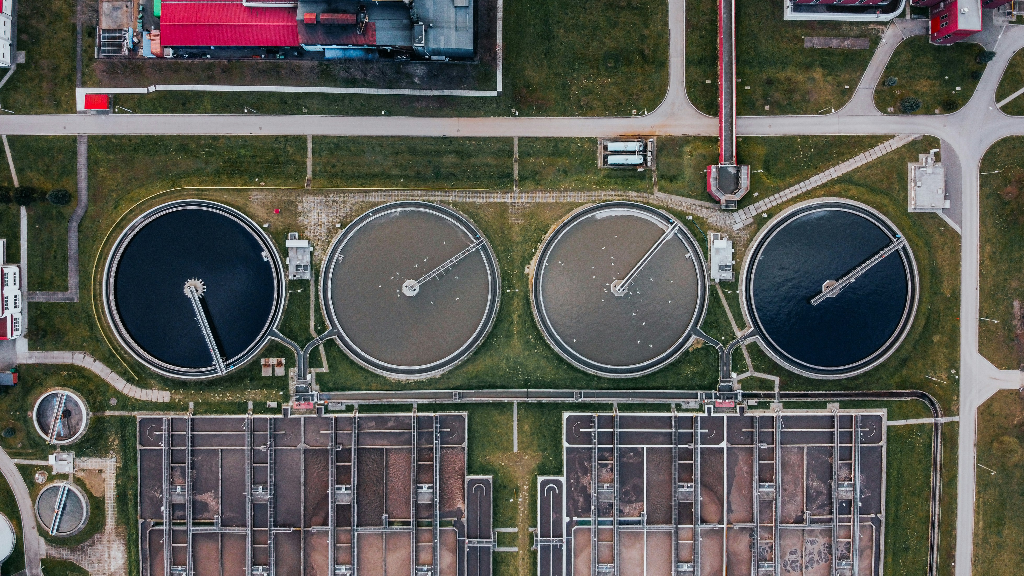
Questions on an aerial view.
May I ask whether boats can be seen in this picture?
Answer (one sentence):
No, no boat is visible in the scene.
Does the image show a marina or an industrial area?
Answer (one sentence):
This looks like an industrial area.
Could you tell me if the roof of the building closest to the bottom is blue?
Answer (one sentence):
No, from above the roof of the building closest to the bottom looks white.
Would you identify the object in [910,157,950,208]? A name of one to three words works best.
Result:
building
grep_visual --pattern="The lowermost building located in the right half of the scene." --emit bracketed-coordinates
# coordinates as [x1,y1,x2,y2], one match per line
[708,233,735,282]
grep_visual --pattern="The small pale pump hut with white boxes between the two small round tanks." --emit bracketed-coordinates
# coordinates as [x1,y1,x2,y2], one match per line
[49,450,79,474]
